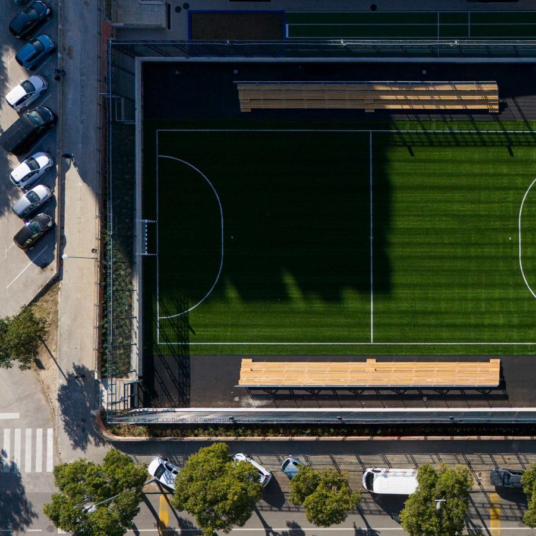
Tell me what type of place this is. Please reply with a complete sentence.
The area seen from above is a sports ground.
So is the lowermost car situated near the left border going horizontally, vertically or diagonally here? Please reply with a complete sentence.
The lowermost car situated near the left border is laid out diagonally.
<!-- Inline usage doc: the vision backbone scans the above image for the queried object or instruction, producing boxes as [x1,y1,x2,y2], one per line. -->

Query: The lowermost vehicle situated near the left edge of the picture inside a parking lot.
[9,212,59,252]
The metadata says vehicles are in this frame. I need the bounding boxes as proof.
[146,453,177,494]
[279,450,317,486]
[231,449,277,491]
[0,104,59,156]
[6,152,56,190]
[365,468,425,497]
[496,466,534,490]
[8,183,57,222]
[9,212,59,252]
[2,73,51,113]
[11,31,59,71]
